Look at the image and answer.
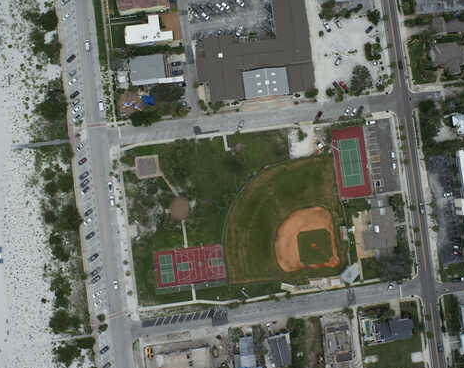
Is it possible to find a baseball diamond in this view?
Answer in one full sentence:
Yes, a baseball diamond is visible in the scene.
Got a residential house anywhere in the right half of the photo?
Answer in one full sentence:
Yes, the scene does show a residential house in the right half of the photo.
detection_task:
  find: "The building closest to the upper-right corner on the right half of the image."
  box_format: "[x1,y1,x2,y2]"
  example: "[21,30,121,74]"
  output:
[429,17,464,34]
